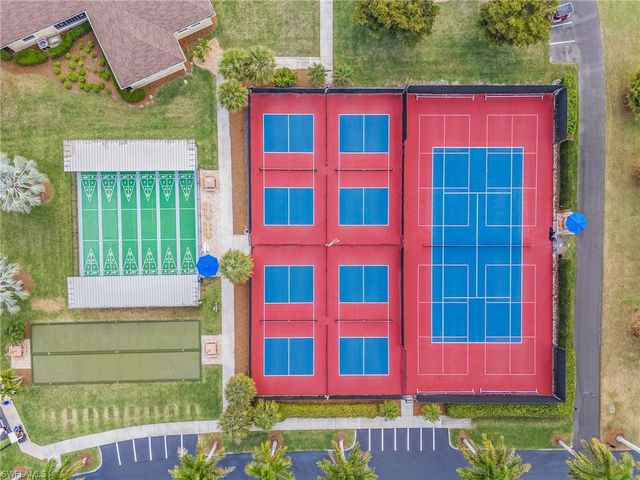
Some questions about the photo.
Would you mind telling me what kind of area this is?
sports ground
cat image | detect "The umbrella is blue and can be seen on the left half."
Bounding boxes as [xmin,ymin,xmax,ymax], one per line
[196,254,219,277]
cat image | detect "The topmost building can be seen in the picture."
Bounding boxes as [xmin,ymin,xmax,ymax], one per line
[0,0,218,91]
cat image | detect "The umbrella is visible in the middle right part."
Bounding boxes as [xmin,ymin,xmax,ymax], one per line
[565,212,586,233]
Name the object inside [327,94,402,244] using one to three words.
sports court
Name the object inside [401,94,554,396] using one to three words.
tennis court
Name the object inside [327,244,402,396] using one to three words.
sports court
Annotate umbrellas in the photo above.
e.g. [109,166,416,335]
[565,212,586,233]
[196,254,219,277]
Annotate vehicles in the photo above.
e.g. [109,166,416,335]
[0,419,16,436]
[8,424,31,442]
[548,2,576,24]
